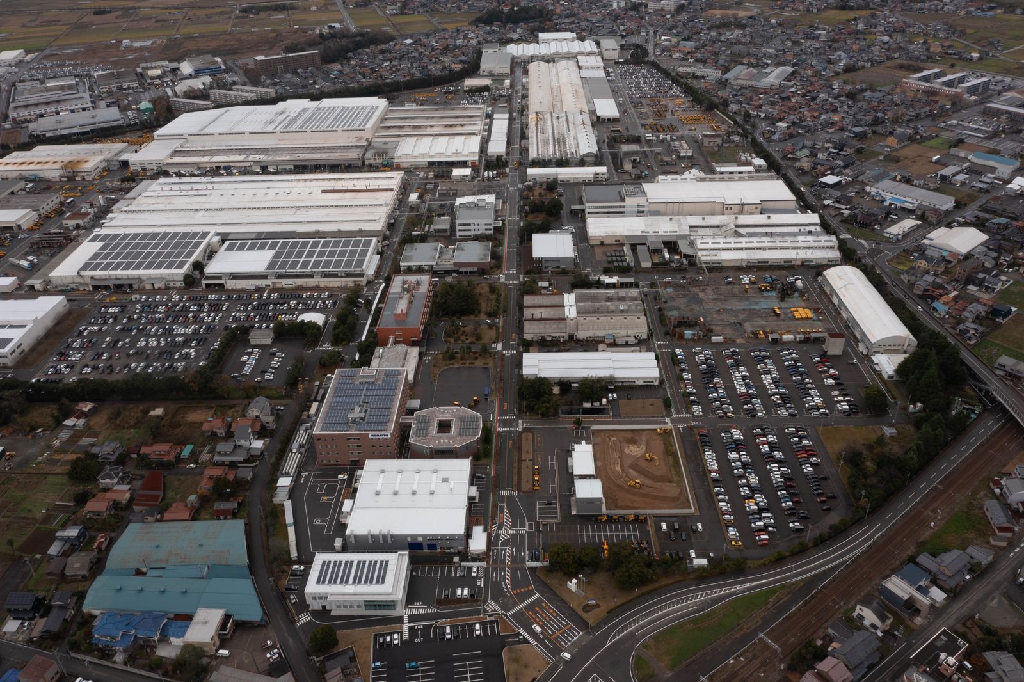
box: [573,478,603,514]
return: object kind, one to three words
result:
building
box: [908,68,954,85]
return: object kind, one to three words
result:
building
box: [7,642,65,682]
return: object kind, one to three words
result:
house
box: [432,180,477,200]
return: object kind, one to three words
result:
shed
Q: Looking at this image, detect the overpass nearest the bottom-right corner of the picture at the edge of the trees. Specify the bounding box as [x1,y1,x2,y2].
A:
[921,316,1024,424]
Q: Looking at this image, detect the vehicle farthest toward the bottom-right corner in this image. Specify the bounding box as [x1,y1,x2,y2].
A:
[960,658,976,671]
